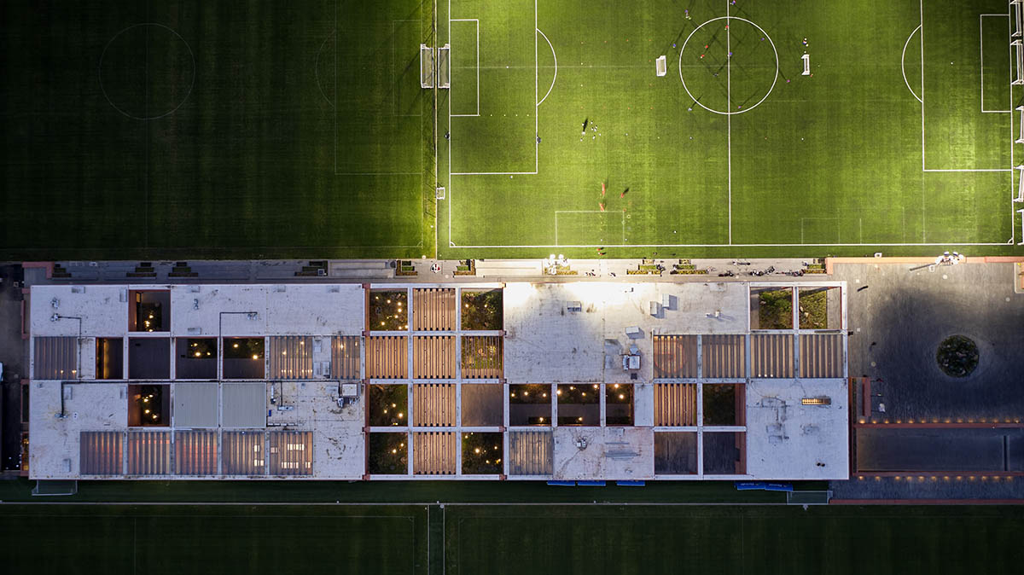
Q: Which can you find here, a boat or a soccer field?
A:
soccer field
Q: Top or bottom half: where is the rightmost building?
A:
bottom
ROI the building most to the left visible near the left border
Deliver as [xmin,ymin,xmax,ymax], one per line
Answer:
[30,285,366,480]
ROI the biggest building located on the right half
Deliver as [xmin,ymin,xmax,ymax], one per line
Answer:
[505,282,848,479]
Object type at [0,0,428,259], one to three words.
soccer field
